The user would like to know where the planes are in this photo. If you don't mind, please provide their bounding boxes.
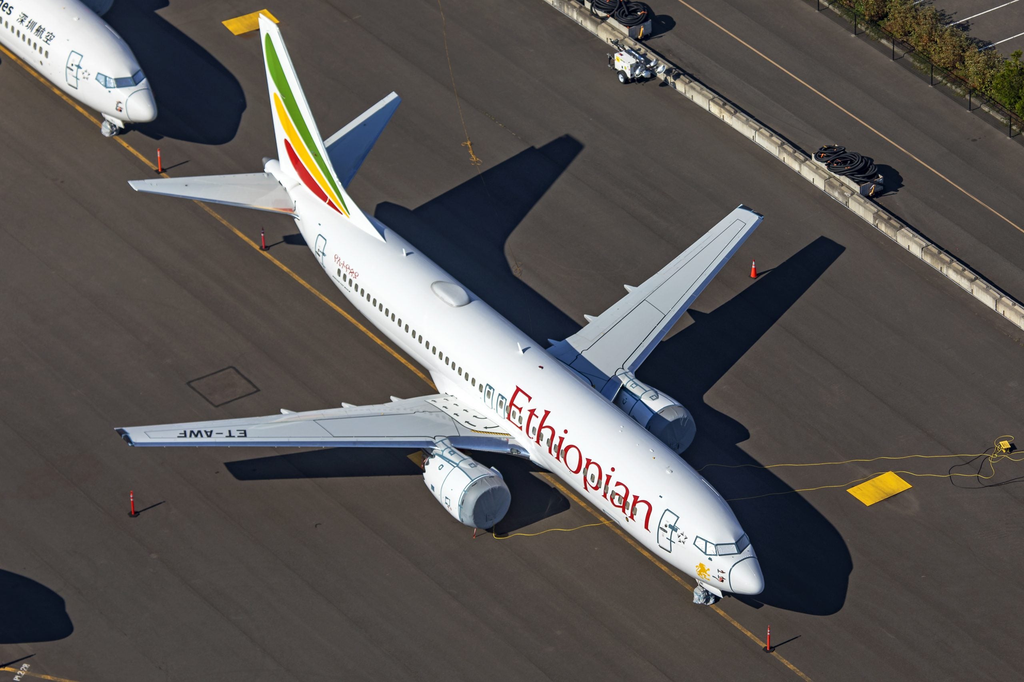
[0,0,159,138]
[113,15,767,606]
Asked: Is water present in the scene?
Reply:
No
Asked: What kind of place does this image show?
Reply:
airport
